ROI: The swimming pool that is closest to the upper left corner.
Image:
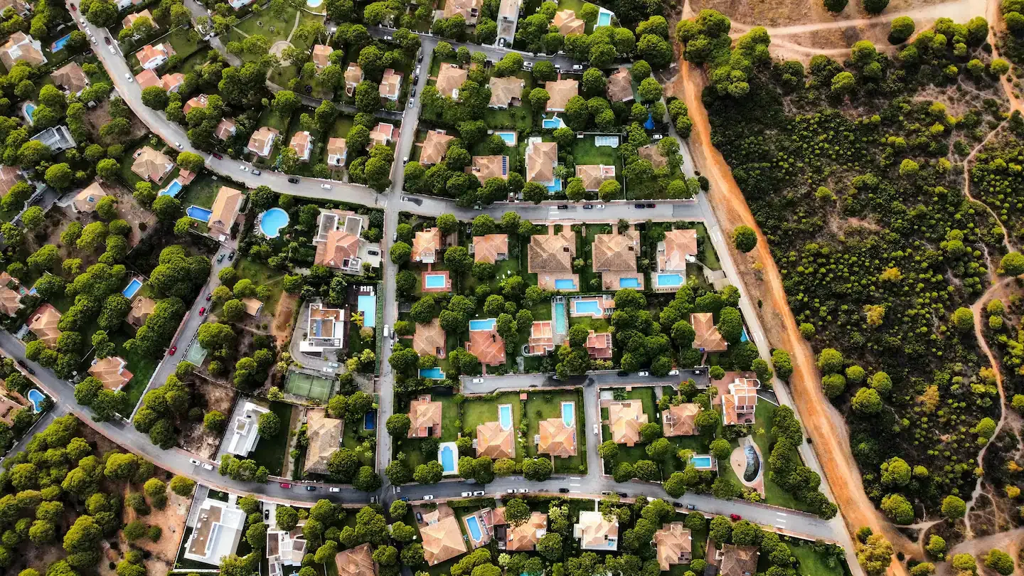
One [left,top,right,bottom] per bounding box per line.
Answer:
[47,31,69,56]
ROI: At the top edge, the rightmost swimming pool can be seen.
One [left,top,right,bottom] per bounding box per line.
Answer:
[592,7,615,29]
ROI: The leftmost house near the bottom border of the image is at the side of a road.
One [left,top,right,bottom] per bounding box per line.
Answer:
[185,494,245,566]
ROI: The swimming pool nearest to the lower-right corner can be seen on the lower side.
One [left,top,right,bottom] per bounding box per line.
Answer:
[735,435,771,490]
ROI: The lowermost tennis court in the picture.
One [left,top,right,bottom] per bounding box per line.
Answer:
[283,369,334,402]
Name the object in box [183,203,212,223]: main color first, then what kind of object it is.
blue swimming pool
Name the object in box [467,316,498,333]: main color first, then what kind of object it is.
blue swimming pool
